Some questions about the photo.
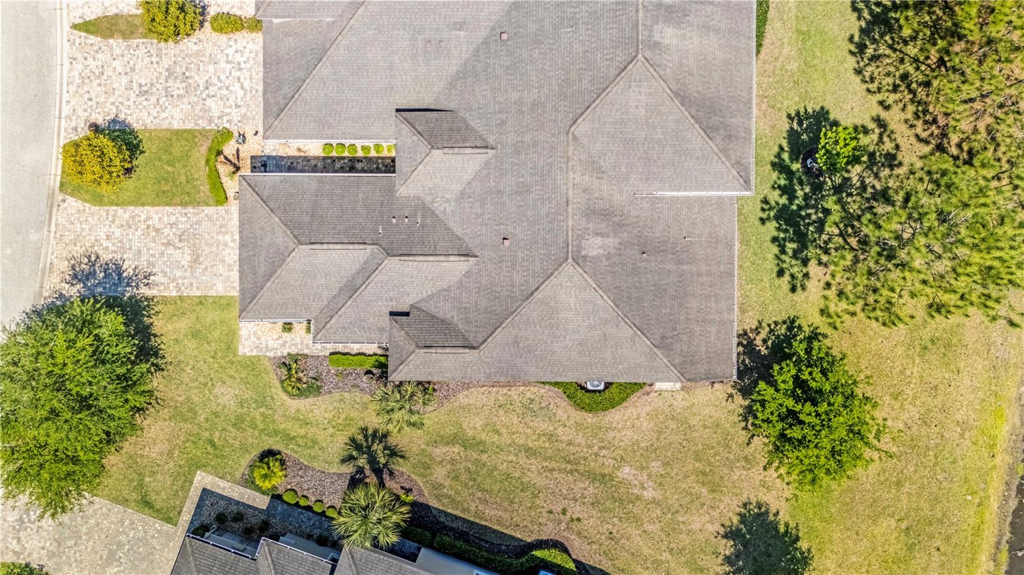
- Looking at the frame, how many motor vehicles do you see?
0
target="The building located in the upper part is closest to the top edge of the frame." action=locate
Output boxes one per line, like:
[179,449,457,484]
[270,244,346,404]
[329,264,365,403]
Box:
[239,0,758,382]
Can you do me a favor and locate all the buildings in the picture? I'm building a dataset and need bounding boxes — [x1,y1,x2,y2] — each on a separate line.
[239,0,758,382]
[172,521,496,575]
